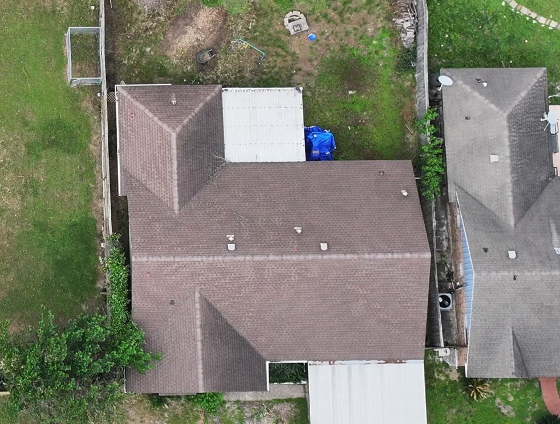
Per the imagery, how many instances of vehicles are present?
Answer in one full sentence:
No vehicles are visible.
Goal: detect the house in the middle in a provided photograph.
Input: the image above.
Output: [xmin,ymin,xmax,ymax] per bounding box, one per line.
[114,83,431,393]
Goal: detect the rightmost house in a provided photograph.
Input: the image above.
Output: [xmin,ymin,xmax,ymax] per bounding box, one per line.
[431,66,560,378]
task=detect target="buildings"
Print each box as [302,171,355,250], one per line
[114,83,431,393]
[431,66,560,378]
